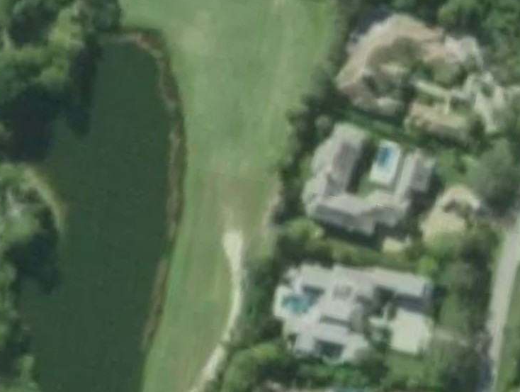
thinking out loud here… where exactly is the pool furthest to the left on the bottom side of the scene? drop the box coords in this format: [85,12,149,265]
[273,281,323,328]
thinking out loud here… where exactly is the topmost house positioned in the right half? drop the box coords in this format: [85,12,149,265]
[329,8,464,114]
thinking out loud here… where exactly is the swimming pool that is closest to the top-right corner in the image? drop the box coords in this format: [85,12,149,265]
[371,140,401,185]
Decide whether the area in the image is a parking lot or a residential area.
residential area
